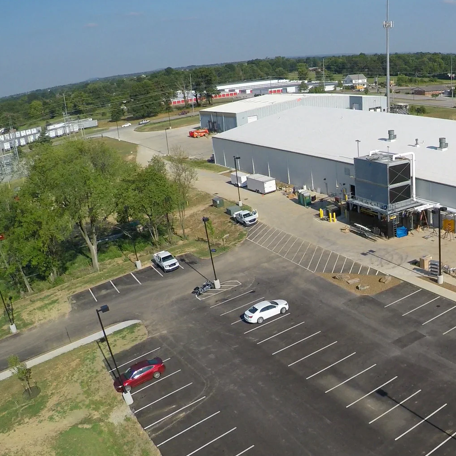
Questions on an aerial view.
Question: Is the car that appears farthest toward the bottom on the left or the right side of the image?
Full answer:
The car that appears farthest toward the bottom is on the left side of the image.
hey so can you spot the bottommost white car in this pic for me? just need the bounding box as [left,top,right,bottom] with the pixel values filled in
[243,299,290,324]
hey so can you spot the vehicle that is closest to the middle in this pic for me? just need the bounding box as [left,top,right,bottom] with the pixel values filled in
[233,209,258,226]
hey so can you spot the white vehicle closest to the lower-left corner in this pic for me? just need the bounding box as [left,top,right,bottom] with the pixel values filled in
[151,250,179,271]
